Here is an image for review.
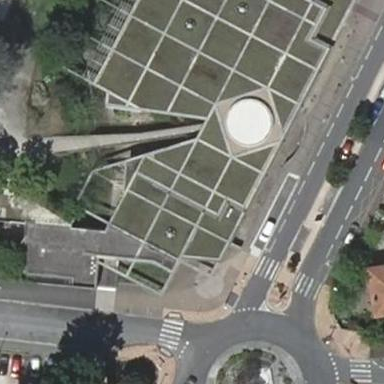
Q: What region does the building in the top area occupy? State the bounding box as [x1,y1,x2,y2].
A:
[73,0,356,293]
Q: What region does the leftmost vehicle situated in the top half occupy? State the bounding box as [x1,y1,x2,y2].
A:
[340,136,354,158]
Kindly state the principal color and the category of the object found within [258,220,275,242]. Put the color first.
white car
